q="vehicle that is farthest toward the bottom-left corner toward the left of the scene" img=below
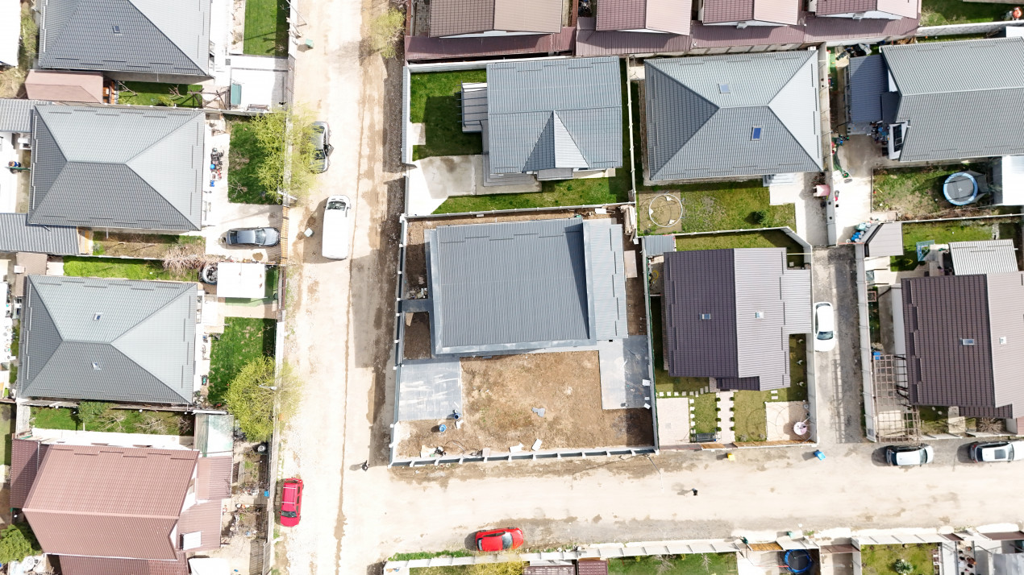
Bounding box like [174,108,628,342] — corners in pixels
[278,477,305,526]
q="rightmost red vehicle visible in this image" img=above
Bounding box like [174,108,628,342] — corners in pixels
[476,526,524,553]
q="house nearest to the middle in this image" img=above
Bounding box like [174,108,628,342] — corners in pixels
[430,218,628,354]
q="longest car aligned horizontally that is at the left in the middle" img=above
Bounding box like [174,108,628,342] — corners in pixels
[224,223,279,249]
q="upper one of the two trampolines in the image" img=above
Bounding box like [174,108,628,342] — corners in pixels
[939,172,986,206]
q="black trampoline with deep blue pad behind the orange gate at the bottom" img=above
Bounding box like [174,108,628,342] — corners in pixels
[781,550,818,575]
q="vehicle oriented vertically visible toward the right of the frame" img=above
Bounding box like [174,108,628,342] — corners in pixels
[815,301,837,351]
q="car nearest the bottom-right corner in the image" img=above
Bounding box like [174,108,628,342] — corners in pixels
[967,438,1024,465]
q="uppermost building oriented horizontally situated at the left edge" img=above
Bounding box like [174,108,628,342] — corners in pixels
[38,0,222,79]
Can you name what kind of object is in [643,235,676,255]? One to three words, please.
shed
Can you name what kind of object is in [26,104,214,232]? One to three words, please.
house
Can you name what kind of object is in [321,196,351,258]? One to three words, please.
van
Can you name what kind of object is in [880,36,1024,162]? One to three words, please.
house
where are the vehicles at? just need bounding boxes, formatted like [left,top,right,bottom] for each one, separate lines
[321,196,351,258]
[278,477,305,526]
[476,526,524,553]
[967,438,1024,465]
[224,223,279,249]
[307,122,338,173]
[884,443,932,469]
[815,301,837,351]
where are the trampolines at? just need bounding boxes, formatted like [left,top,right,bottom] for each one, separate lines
[781,550,818,575]
[939,172,986,206]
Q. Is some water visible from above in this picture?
No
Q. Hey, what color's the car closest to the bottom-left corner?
red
